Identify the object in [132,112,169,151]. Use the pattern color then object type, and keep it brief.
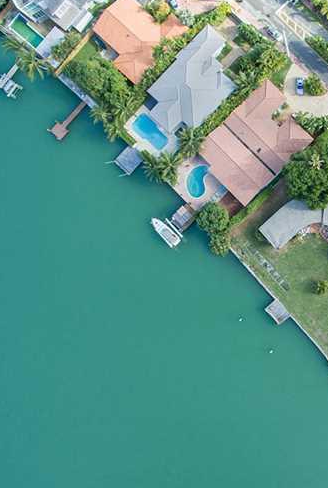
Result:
blue swimming pool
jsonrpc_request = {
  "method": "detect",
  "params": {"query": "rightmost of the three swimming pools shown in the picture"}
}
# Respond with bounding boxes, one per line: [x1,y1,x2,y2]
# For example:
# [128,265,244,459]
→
[184,163,212,199]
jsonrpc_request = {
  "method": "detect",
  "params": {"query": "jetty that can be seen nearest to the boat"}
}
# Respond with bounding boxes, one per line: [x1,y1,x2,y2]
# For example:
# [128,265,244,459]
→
[172,205,198,233]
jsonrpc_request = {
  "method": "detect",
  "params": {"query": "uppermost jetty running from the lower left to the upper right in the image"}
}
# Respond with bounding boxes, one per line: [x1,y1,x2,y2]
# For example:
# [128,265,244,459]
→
[48,103,90,141]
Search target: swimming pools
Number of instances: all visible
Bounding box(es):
[184,163,212,199]
[132,112,169,151]
[7,13,46,51]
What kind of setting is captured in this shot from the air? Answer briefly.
residential area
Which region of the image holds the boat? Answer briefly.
center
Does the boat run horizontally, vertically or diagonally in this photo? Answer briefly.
diagonally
